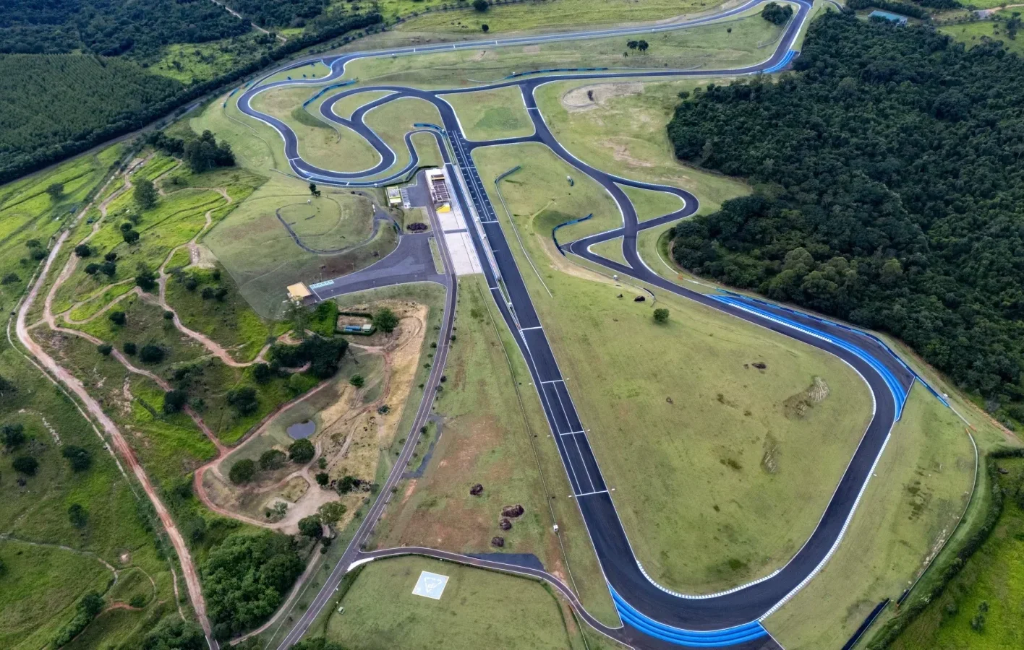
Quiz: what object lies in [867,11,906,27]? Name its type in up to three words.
building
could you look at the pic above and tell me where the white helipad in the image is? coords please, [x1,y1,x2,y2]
[412,571,449,600]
